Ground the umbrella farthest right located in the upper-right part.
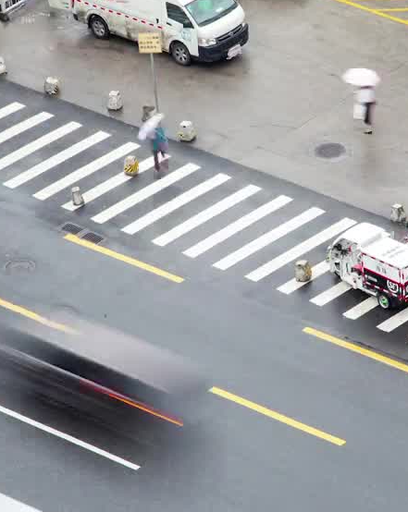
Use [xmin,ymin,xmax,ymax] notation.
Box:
[339,69,383,103]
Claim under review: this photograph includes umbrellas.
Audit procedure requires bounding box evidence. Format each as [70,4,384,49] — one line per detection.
[339,69,383,103]
[140,113,170,143]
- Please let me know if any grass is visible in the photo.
No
